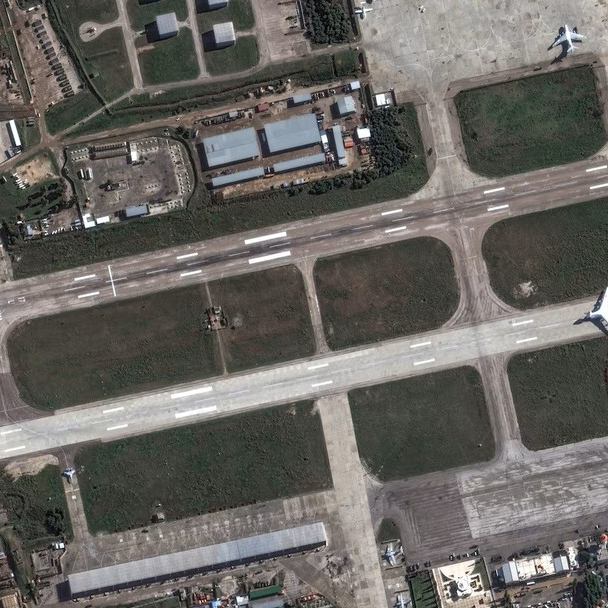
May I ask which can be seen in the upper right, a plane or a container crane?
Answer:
plane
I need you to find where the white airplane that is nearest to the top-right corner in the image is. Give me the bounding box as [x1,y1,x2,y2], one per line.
[554,25,588,55]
